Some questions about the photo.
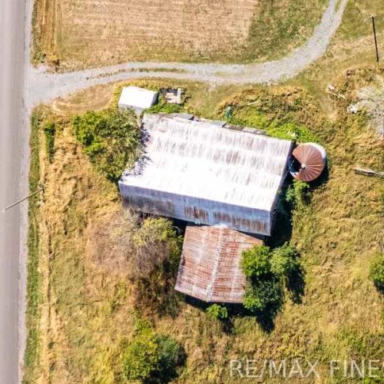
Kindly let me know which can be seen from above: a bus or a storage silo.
storage silo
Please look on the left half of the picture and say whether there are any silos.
No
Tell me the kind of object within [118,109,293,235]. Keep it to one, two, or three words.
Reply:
barn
